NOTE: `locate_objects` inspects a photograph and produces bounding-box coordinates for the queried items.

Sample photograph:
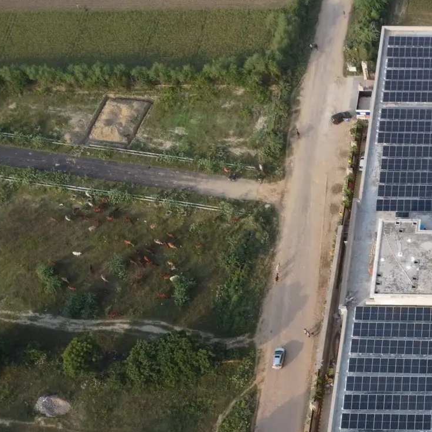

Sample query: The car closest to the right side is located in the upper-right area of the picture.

[332,107,353,123]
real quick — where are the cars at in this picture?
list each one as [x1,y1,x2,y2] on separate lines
[273,346,286,370]
[332,107,353,123]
